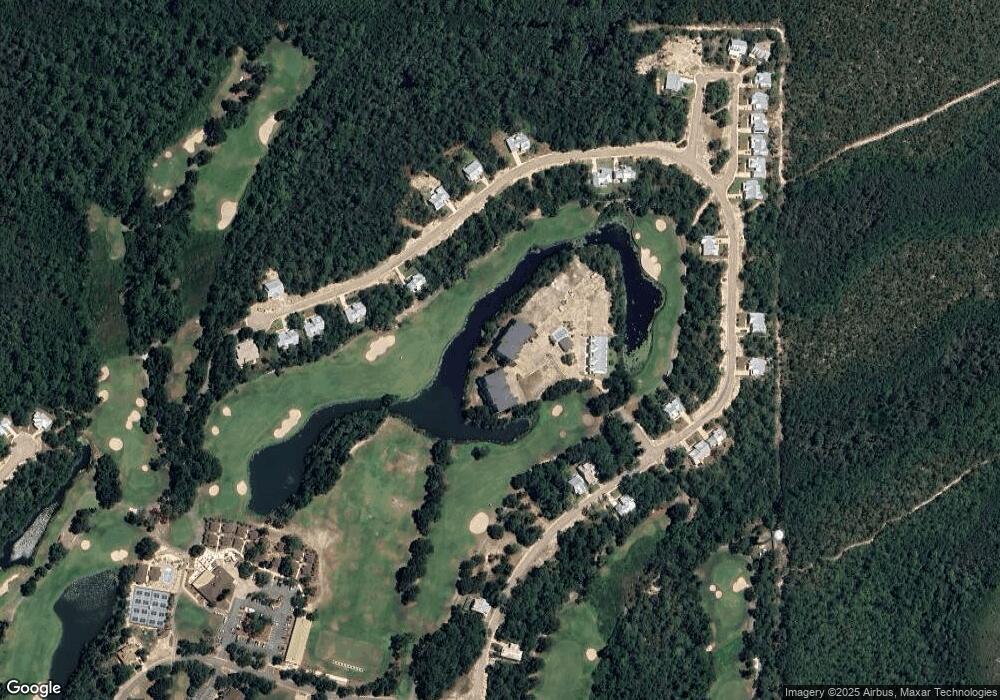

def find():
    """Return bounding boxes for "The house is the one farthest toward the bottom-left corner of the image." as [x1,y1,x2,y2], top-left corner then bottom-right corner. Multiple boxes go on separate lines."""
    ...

[116,641,139,668]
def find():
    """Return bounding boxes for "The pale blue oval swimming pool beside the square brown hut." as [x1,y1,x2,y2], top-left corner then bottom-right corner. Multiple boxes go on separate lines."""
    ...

[160,566,177,586]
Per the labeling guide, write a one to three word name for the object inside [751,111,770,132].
house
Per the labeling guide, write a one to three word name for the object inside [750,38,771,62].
house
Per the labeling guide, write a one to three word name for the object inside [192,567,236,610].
building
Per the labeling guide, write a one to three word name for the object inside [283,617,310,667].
barn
